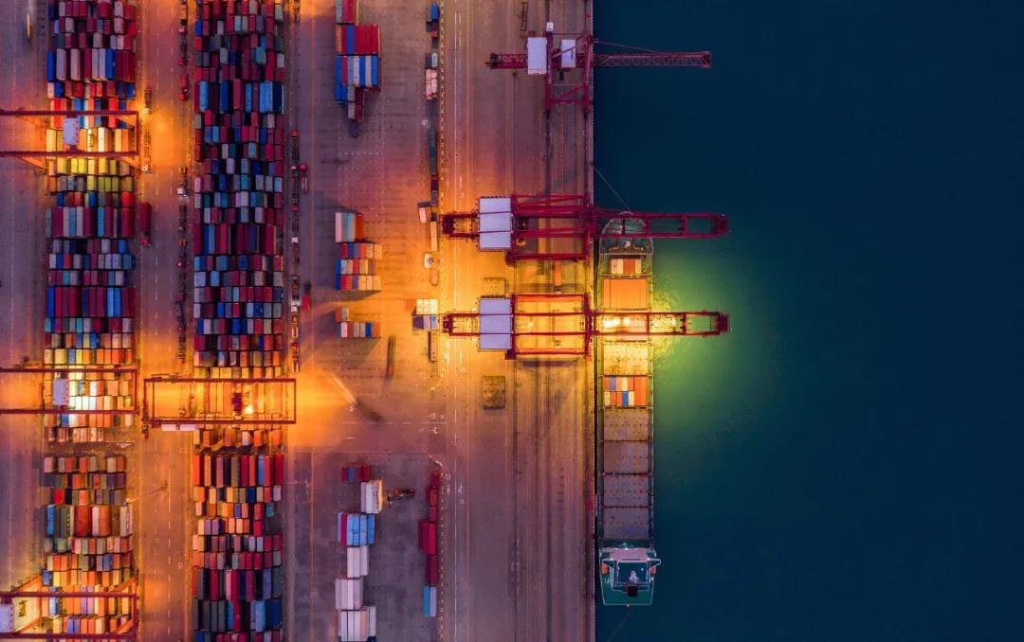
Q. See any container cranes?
Yes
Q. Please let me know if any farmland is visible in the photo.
No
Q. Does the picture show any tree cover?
No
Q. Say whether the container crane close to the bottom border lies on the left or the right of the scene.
left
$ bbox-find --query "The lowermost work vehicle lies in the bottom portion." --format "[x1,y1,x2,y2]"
[385,487,414,505]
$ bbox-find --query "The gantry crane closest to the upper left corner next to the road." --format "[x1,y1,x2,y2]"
[0,109,149,174]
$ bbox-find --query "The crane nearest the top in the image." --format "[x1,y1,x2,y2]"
[480,21,710,119]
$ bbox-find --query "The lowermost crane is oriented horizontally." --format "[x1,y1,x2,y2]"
[0,570,146,640]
